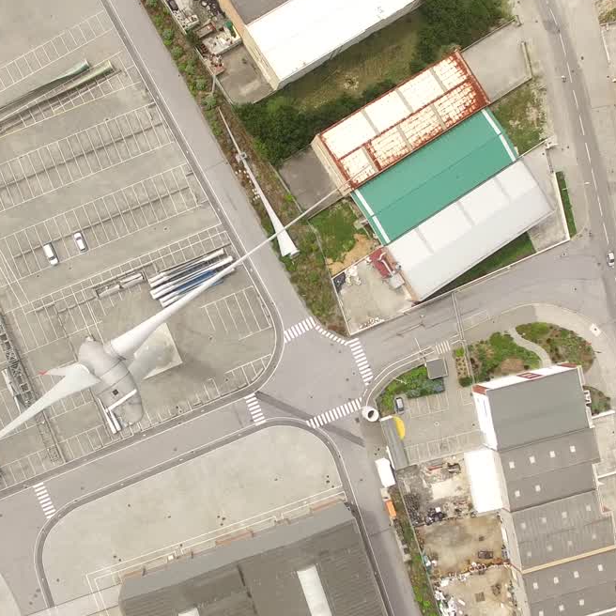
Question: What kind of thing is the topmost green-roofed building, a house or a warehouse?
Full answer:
The topmost green-roofed building can be classified as a warehouse.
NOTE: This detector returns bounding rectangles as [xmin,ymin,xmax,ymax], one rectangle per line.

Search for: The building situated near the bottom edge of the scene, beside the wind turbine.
[120,505,385,616]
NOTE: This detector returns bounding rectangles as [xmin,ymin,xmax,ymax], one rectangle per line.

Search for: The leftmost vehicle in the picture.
[41,243,59,265]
